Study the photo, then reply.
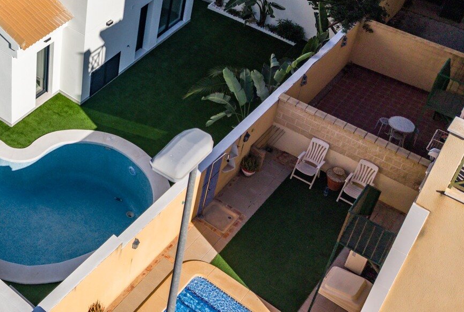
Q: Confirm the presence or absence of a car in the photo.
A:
No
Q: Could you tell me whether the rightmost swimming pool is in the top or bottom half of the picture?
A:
bottom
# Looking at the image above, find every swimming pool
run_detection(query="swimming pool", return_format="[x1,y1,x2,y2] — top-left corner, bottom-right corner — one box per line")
[170,260,274,312]
[0,130,167,285]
